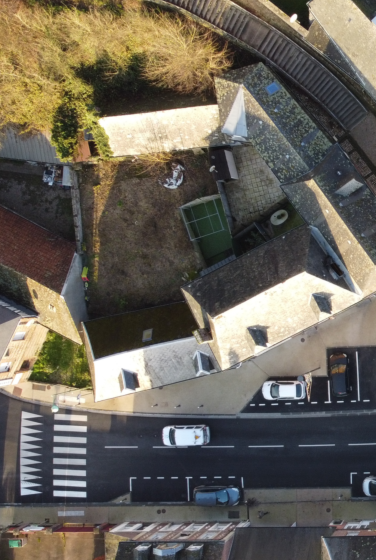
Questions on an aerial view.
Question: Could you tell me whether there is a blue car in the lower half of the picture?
Yes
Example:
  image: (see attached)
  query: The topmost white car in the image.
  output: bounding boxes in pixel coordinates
[262,380,307,402]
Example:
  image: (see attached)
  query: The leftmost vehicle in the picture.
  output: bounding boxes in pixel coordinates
[163,424,214,447]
